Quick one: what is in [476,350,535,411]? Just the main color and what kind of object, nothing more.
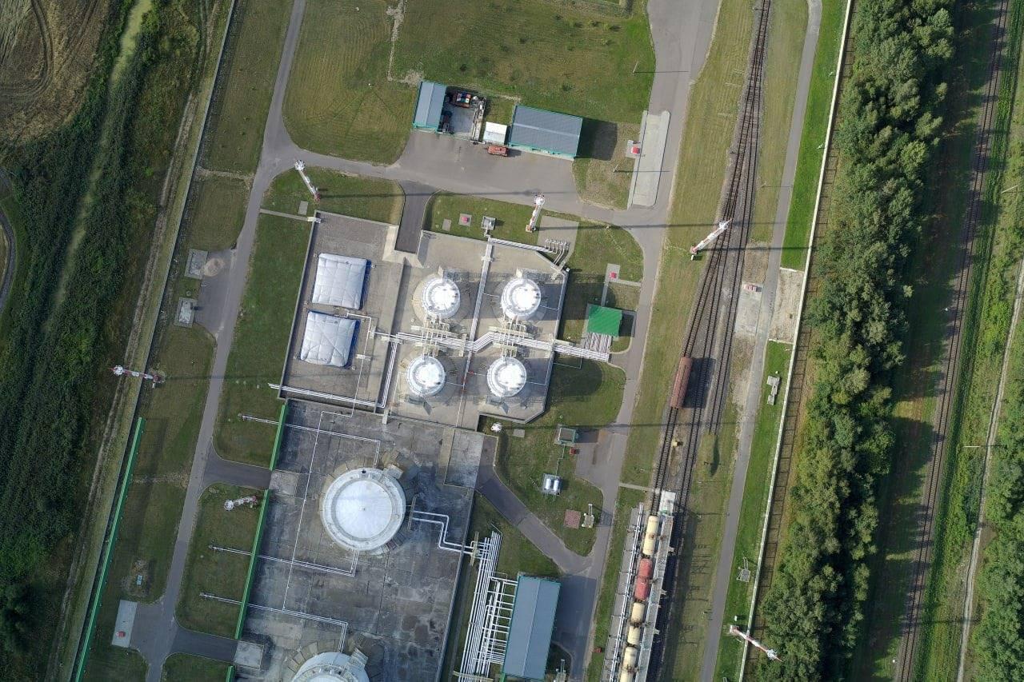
white storage tank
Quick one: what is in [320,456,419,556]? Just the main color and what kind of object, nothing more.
white storage tank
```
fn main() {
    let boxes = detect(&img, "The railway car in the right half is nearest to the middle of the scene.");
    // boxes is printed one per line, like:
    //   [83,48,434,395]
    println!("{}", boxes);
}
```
[670,358,696,411]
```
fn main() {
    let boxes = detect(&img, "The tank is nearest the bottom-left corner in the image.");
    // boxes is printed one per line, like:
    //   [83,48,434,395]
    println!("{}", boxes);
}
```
[280,639,381,682]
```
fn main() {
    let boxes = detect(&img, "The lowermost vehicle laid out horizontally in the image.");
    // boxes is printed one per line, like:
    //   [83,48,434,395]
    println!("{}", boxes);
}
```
[487,142,509,156]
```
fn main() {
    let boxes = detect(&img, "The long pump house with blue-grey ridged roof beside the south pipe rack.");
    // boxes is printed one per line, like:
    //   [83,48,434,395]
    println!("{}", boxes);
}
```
[503,576,561,680]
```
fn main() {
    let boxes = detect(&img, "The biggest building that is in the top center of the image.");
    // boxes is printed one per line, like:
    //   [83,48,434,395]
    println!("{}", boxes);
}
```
[509,105,582,160]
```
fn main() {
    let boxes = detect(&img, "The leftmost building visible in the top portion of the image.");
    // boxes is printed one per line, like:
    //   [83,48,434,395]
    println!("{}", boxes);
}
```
[414,81,446,134]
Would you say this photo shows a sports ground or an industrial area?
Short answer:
industrial area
